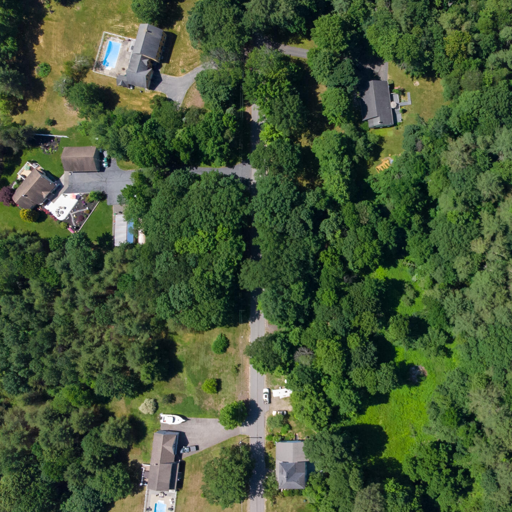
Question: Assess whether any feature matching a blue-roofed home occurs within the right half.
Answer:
No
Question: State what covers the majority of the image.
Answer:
trees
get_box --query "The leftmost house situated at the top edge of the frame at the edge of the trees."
[115,23,166,89]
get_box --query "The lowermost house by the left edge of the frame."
[11,162,59,213]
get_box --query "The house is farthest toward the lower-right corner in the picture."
[276,434,310,490]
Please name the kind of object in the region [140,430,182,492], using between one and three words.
house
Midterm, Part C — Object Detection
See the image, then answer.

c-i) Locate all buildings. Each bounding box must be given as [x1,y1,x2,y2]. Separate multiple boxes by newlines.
[276,434,310,490]
[115,23,166,89]
[61,146,99,171]
[358,79,412,129]
[11,162,59,213]
[140,430,182,492]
